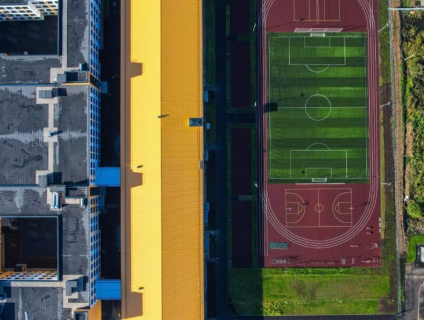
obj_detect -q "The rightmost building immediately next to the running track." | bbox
[121,0,219,320]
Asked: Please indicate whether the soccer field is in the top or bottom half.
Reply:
top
